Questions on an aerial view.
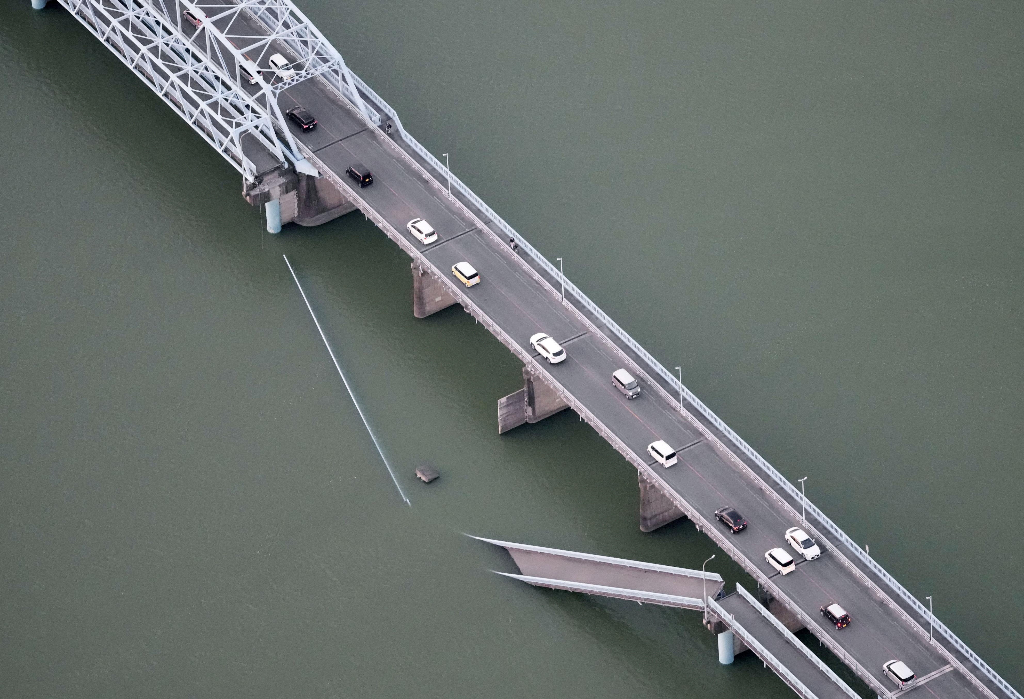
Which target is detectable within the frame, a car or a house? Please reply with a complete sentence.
Visible in the photo is a car.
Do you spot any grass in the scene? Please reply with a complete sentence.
No, no grass is visible.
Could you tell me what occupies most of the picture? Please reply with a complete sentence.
Most of the picture is covered by water.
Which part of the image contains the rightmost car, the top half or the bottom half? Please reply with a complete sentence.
You can find the rightmost car in the bottom half.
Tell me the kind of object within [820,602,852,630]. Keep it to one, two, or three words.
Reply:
car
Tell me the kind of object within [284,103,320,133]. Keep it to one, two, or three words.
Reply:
car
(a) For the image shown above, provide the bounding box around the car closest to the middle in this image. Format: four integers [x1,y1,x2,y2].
[530,333,568,365]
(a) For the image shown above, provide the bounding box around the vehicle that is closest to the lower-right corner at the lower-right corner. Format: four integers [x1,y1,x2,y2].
[883,662,915,690]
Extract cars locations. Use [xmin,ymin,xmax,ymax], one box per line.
[784,526,824,561]
[530,333,568,365]
[452,263,481,288]
[647,441,678,468]
[181,8,211,34]
[345,161,373,187]
[764,547,795,575]
[407,219,439,246]
[883,662,915,690]
[269,52,297,82]
[820,602,852,630]
[715,505,752,536]
[284,103,320,133]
